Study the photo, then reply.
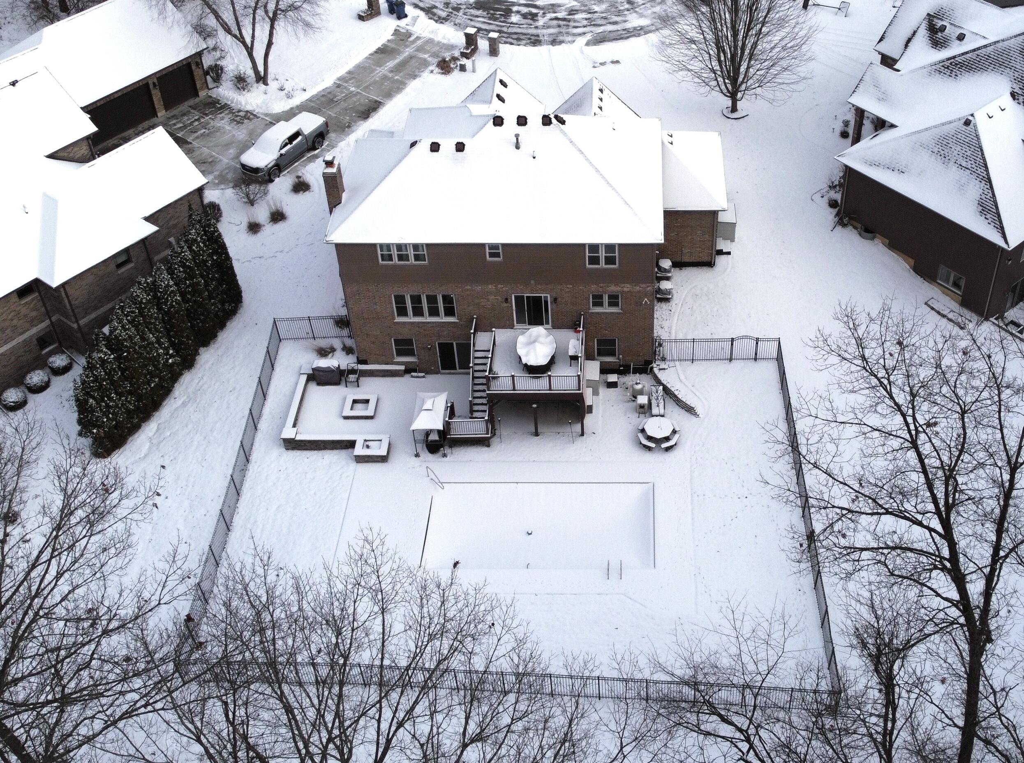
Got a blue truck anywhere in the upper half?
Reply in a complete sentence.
No, I see no blue truck in the upper half.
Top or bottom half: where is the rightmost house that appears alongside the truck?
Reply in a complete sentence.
You can find the rightmost house that appears alongside the truck in the top half.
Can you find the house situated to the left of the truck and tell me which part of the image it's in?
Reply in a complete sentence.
The house situated to the left of the truck sits in the top left section of the image.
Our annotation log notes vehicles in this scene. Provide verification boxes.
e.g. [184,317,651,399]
[232,111,332,183]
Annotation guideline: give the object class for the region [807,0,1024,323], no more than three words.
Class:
house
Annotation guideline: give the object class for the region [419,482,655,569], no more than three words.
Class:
swimming pool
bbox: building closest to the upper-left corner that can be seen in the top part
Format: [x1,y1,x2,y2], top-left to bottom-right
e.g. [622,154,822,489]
[0,0,211,390]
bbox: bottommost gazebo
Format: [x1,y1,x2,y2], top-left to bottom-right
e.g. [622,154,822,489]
[409,392,451,464]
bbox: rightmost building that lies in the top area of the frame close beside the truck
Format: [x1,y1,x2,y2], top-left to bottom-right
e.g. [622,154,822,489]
[322,69,666,376]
